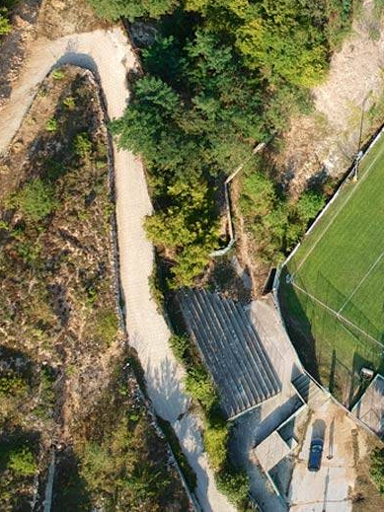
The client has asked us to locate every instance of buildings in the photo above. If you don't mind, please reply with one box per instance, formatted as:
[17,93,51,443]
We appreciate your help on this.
[254,429,291,472]
[351,374,384,437]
